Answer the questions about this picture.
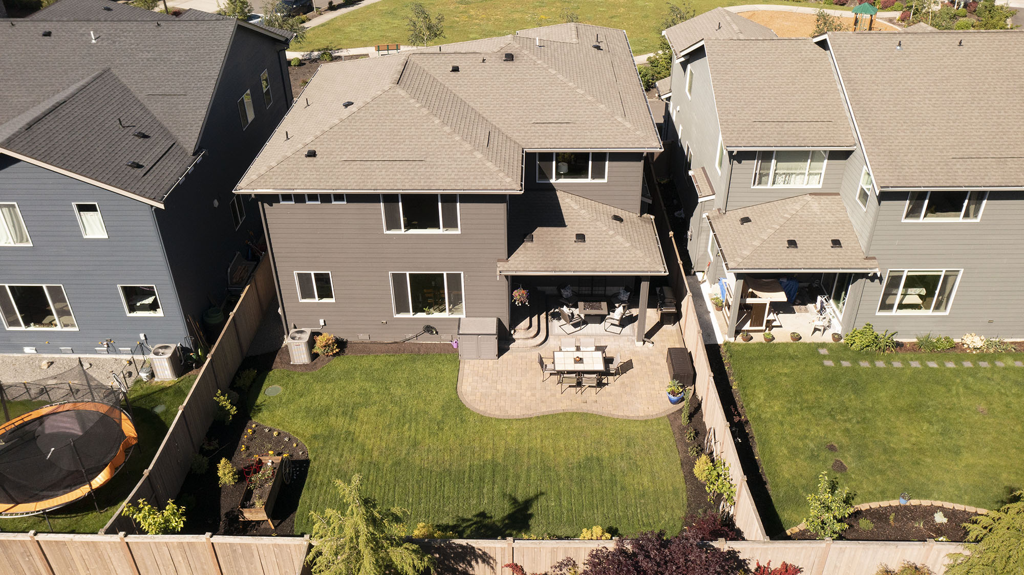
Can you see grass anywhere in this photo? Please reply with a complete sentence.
Yes, the picture does contain grass.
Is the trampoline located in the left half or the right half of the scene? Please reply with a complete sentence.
The trampoline sits on the left side.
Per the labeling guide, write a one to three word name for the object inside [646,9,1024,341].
house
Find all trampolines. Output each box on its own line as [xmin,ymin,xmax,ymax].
[0,354,149,533]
